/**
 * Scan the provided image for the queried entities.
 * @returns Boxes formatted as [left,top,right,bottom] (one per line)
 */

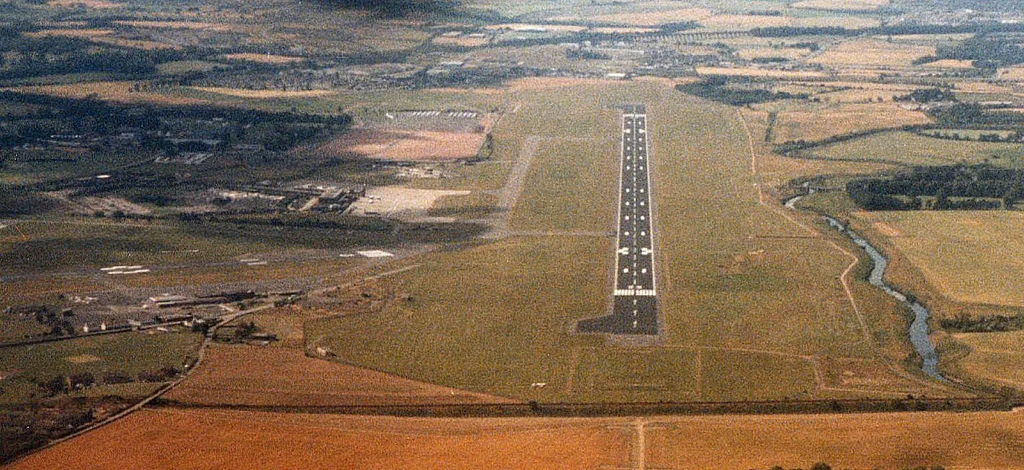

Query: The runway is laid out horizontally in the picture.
[0,230,515,277]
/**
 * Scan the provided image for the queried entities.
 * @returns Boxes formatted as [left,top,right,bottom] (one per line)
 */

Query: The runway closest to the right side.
[612,105,658,333]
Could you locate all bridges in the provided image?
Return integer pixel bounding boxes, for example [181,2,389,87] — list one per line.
[631,29,753,42]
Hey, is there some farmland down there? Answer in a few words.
Yes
